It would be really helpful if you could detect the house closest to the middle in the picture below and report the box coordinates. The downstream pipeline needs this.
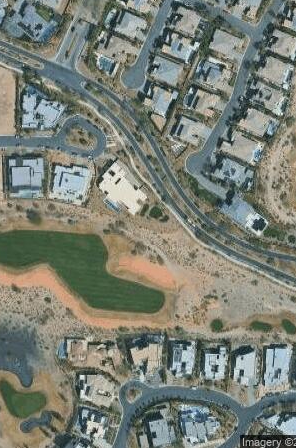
[88,155,152,223]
